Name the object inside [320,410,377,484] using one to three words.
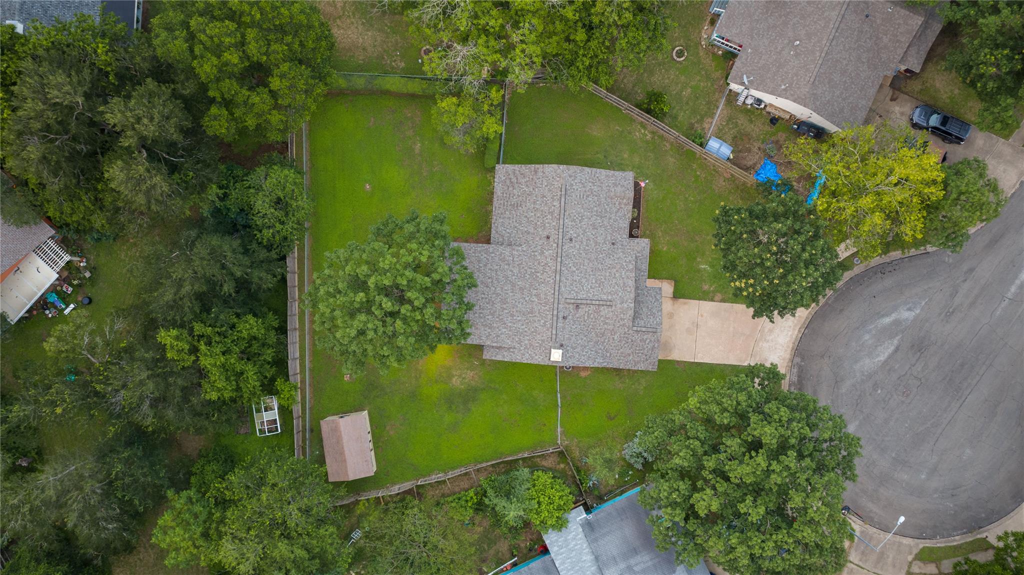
shed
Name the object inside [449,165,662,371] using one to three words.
house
